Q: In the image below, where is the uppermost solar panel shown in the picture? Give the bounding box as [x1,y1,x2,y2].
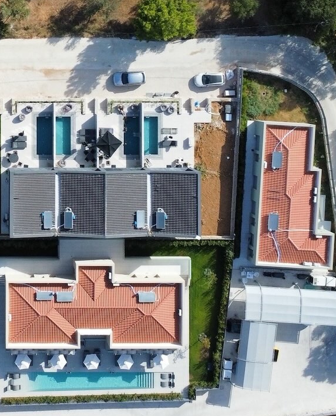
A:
[272,127,297,172]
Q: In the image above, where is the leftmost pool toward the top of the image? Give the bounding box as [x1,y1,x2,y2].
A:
[32,113,58,160]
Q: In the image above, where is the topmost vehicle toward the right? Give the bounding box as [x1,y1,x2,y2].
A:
[195,72,228,89]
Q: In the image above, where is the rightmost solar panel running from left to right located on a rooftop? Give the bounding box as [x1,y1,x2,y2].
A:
[119,283,173,303]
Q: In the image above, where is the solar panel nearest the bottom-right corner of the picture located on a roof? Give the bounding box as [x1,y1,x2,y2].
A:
[268,211,284,262]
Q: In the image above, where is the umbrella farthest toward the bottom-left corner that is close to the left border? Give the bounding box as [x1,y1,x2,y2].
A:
[14,353,31,369]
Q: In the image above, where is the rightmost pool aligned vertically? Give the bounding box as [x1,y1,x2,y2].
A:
[143,113,162,158]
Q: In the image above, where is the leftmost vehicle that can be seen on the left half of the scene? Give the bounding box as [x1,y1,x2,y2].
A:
[115,71,147,87]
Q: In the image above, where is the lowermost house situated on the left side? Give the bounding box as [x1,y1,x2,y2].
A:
[2,257,183,347]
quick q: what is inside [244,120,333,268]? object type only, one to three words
house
